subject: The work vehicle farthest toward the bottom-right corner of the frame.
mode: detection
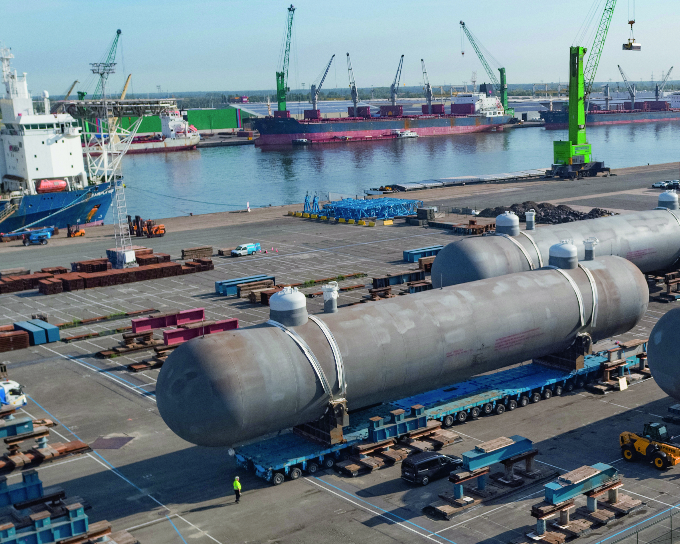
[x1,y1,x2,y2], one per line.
[616,421,680,472]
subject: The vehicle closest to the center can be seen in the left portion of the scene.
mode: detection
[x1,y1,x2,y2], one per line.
[229,241,265,256]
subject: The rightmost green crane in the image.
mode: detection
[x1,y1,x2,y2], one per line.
[541,0,634,179]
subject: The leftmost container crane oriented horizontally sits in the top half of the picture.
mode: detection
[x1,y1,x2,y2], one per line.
[354,75,413,98]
